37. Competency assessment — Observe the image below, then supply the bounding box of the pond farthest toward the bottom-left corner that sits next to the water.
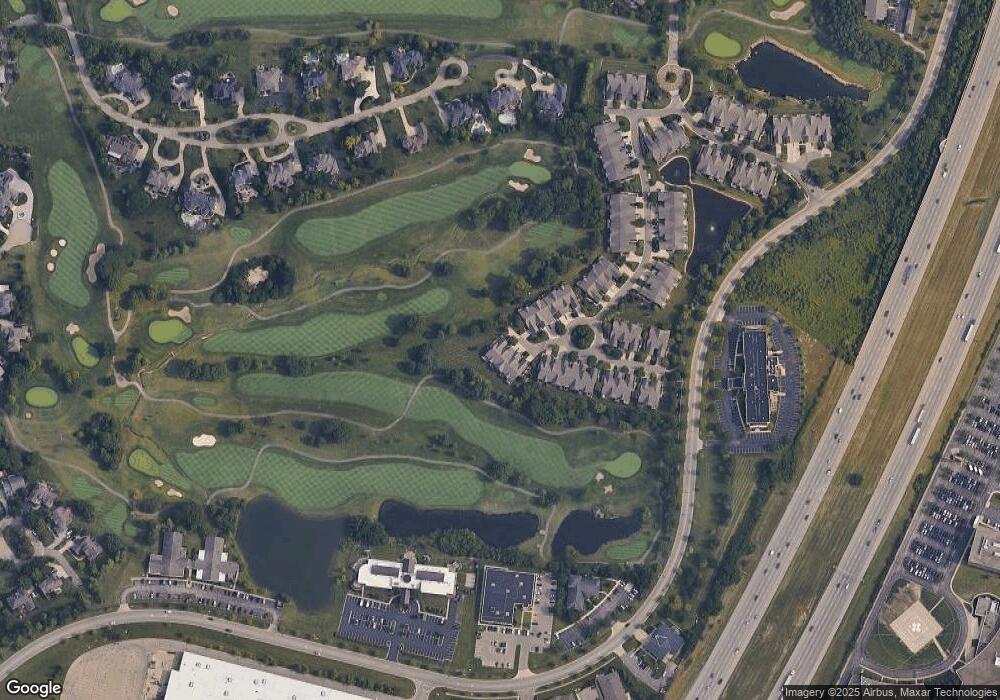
[238,494,347,612]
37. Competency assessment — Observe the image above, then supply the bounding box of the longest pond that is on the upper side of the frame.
[736,43,868,102]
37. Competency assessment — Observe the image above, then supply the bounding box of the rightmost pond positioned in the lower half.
[552,511,643,558]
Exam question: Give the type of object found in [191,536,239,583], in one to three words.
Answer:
building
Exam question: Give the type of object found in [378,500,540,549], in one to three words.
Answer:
pond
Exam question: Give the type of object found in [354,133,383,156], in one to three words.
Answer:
house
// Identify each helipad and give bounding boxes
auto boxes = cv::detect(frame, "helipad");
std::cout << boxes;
[891,597,947,659]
